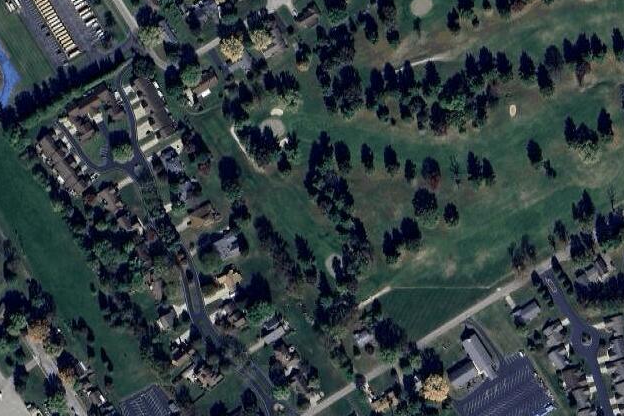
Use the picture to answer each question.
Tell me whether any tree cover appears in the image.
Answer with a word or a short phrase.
Yes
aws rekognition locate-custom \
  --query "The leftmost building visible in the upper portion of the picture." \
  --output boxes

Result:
[38,135,94,197]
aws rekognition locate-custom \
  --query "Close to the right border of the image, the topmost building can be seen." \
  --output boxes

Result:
[573,260,610,287]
